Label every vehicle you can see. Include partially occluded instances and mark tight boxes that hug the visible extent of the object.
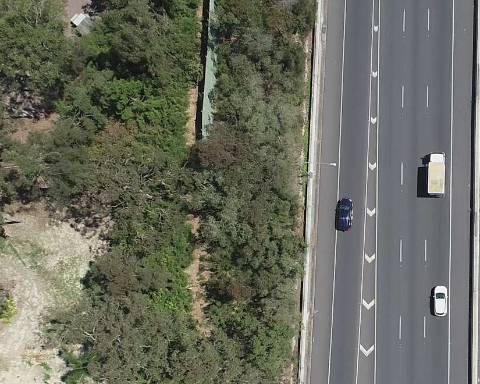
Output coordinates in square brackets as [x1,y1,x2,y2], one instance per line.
[336,197,352,230]
[432,285,447,316]
[427,152,446,196]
